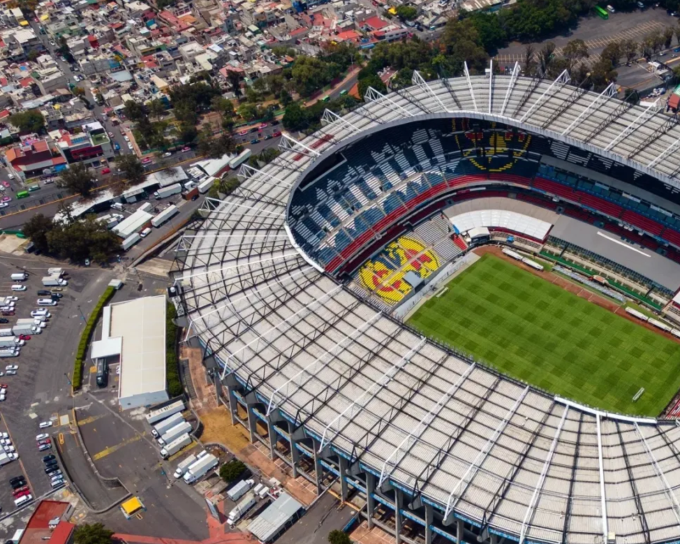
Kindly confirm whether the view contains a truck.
Yes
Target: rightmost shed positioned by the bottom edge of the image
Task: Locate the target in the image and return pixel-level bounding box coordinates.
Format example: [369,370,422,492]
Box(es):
[247,493,306,544]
